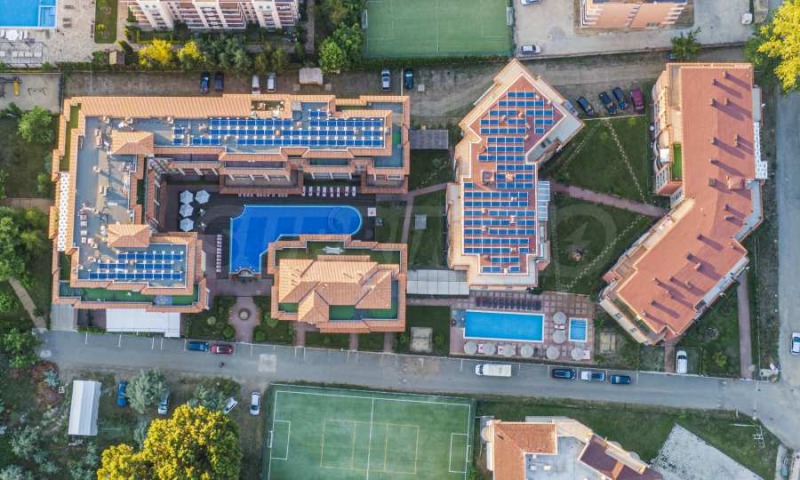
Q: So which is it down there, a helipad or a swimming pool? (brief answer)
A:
swimming pool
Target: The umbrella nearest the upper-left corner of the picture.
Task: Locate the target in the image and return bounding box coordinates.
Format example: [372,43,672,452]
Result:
[5,27,20,42]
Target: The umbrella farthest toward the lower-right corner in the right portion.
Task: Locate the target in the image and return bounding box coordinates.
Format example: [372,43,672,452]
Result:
[570,347,584,360]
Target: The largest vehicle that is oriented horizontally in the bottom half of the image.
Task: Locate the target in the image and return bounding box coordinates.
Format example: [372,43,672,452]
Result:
[474,363,512,376]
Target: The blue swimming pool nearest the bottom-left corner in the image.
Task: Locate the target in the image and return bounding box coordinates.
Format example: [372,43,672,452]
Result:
[229,204,364,278]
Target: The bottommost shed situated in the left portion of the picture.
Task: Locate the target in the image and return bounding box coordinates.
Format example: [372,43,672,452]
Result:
[67,381,103,435]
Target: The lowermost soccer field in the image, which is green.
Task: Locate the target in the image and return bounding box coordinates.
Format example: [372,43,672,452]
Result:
[265,385,475,480]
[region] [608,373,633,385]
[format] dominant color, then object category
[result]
blue vehicle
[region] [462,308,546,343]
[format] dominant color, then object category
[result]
blue swimming pool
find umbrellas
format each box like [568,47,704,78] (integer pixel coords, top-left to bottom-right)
[502,344,515,357]
[180,191,195,205]
[179,204,194,217]
[552,312,566,325]
[520,345,534,358]
[483,342,496,356]
[5,27,20,42]
[552,330,566,344]
[463,342,477,355]
[196,190,209,204]
[545,346,559,360]
[180,218,195,231]
[570,347,584,360]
